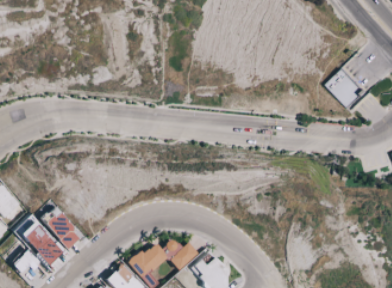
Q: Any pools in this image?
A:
No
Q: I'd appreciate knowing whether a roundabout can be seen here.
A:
No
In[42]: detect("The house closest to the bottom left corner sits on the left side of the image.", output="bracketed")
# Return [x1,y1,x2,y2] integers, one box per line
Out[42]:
[6,246,40,280]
